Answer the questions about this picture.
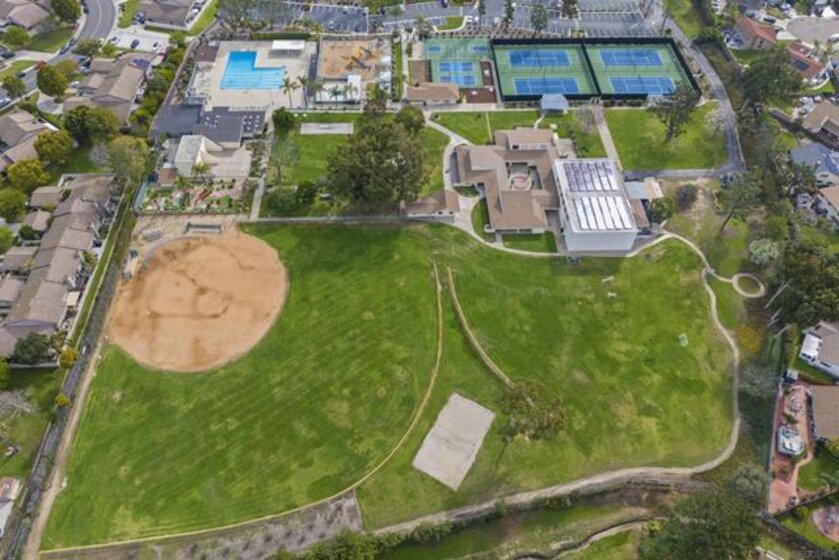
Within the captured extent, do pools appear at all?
Yes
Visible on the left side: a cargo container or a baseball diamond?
baseball diamond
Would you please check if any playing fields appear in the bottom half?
Yes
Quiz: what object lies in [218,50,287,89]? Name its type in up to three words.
swimming pool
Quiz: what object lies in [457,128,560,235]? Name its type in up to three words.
building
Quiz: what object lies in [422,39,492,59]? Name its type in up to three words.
basketball court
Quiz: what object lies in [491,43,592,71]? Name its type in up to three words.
tennis court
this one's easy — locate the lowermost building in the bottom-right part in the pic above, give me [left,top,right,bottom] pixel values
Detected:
[800,384,839,441]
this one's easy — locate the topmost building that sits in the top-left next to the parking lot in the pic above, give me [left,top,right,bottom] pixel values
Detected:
[134,0,202,33]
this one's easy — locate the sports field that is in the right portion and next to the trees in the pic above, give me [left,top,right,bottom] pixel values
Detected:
[359,221,734,534]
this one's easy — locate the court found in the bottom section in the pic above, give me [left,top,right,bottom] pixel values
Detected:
[413,394,495,490]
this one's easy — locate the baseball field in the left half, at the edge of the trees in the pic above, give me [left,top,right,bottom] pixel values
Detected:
[44,221,436,551]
